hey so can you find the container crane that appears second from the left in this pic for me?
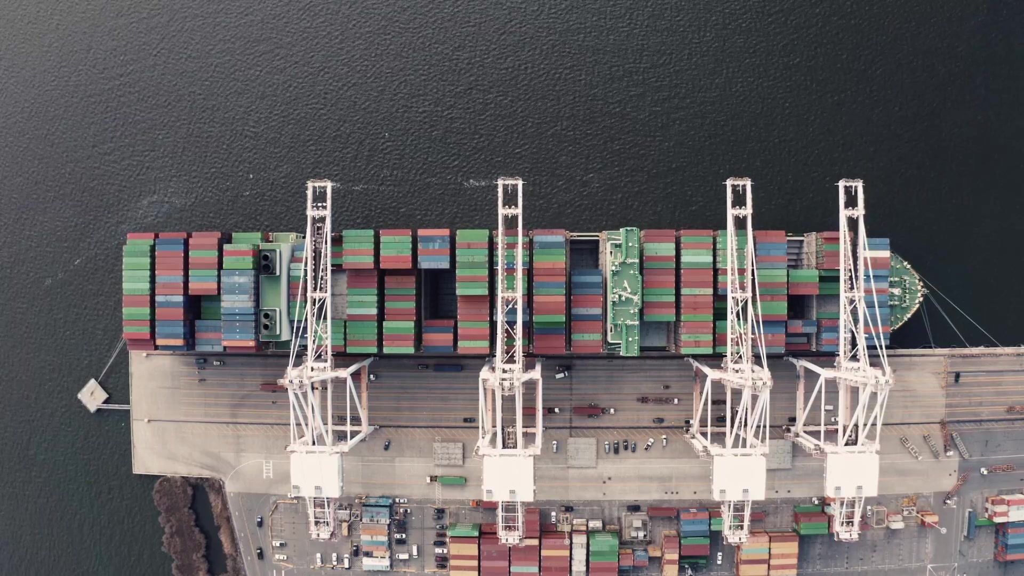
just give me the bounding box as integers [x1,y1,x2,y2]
[473,177,551,549]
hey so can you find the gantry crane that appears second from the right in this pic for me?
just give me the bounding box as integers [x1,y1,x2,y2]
[675,176,771,549]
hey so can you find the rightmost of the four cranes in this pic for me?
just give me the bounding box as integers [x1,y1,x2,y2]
[772,174,891,549]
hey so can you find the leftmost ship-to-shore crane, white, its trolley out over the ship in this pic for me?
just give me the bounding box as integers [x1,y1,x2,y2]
[285,178,384,547]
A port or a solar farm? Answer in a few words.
port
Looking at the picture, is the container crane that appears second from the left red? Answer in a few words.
No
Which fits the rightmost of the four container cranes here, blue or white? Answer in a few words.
white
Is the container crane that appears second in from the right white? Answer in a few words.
Yes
